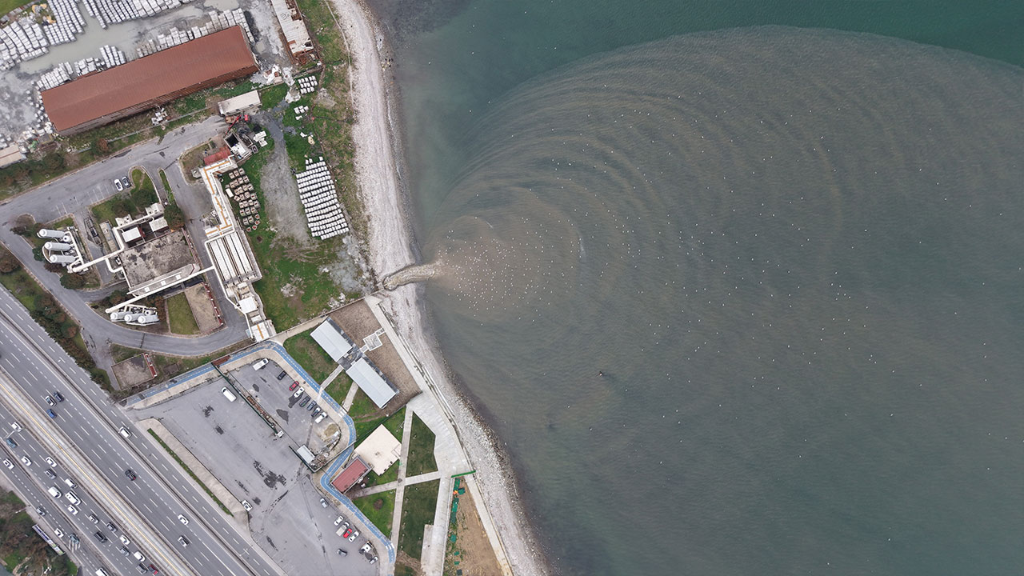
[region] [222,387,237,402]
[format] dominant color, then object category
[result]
white vehicle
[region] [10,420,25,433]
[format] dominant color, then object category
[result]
white vehicle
